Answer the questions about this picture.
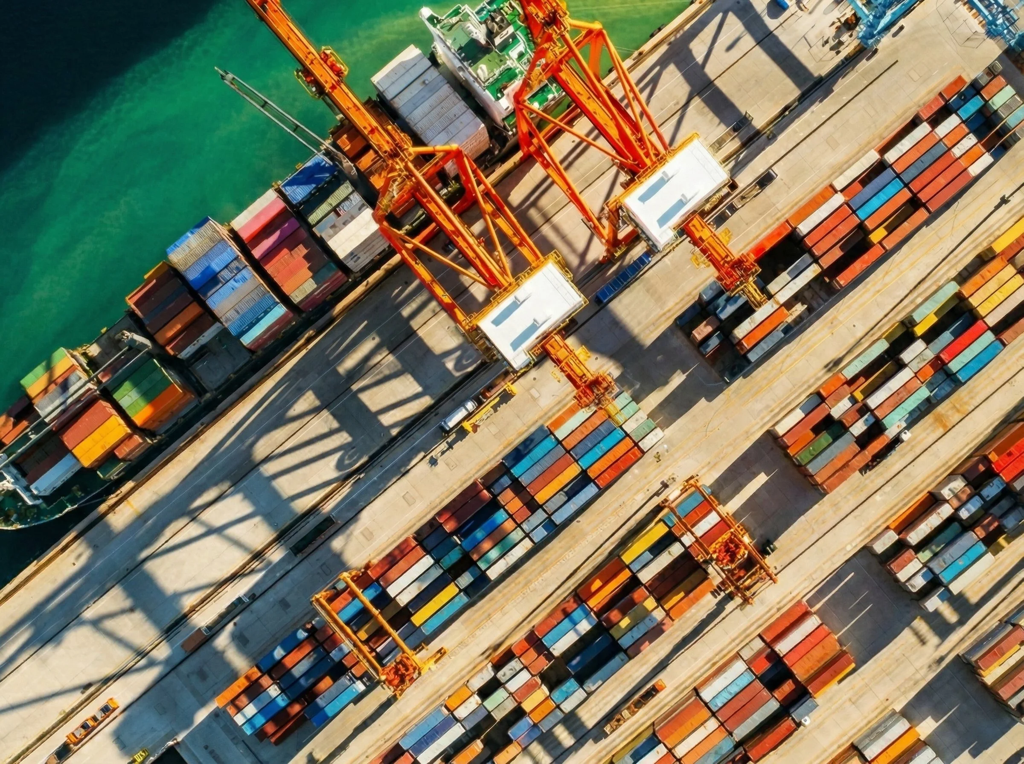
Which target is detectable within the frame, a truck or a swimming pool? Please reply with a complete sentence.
Of the two, only a truck appears.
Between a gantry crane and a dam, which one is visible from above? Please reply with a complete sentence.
It is a gantry crane that can be seen here.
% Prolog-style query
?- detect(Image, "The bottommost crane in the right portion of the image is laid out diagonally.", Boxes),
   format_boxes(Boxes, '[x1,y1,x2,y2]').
[641,466,790,618]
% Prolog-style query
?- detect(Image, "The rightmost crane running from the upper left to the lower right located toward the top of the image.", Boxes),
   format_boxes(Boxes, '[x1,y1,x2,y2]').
[506,0,777,309]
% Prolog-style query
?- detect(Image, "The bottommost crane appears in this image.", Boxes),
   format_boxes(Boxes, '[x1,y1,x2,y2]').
[300,547,456,706]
